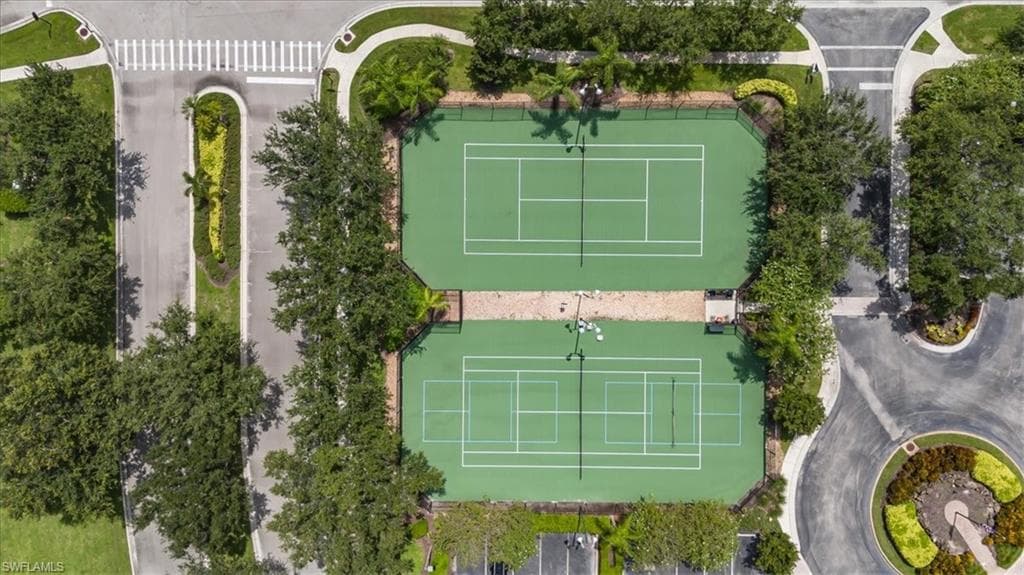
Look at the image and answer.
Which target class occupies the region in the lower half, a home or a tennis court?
tennis court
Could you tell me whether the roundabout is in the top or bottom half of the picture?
bottom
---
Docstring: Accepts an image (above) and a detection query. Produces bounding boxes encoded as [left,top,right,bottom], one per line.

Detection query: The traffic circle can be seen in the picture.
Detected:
[870,431,1024,575]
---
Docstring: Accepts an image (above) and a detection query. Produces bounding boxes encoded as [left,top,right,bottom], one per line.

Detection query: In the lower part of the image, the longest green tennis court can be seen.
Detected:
[402,321,766,503]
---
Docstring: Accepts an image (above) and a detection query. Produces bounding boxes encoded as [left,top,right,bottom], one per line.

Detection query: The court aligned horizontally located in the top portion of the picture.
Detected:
[401,108,767,290]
